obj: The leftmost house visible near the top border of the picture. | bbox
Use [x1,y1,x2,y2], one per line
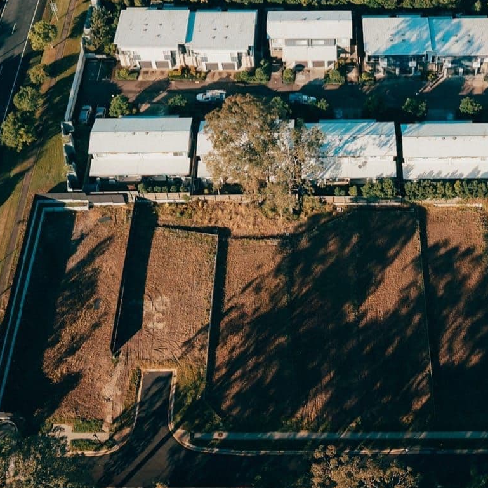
[113,10,194,68]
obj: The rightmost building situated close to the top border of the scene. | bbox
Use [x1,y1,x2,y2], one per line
[430,18,488,77]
